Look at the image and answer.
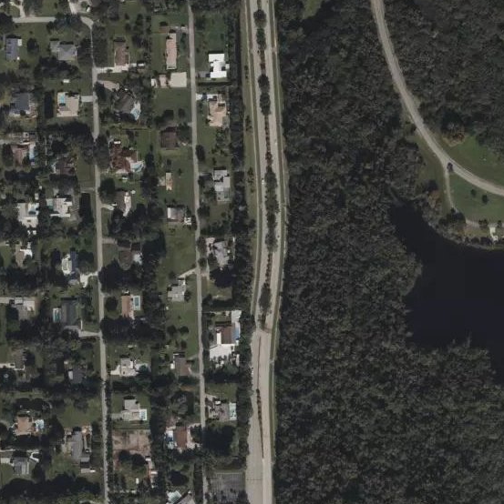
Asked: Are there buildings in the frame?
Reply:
Yes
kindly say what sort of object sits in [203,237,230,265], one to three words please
house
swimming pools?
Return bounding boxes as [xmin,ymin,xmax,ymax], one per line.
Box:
[168,491,180,504]
[230,404,237,421]
[135,363,151,373]
[234,321,240,341]
[58,92,64,110]
[29,203,38,216]
[130,101,141,120]
[53,308,61,324]
[166,437,174,448]
[29,143,35,160]
[130,159,145,173]
[133,296,141,311]
[35,420,44,432]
